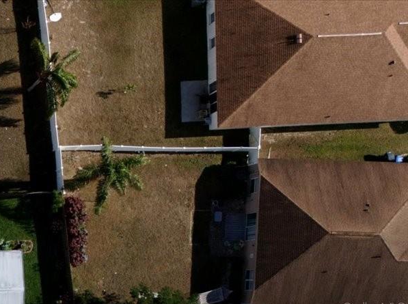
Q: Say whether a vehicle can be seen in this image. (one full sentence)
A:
No, no vehicle is visible in the scene.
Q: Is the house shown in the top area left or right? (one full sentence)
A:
The house shown in the top area appears in the right half of the scene.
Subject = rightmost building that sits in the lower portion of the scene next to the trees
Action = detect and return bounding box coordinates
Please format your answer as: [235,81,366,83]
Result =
[239,159,408,304]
